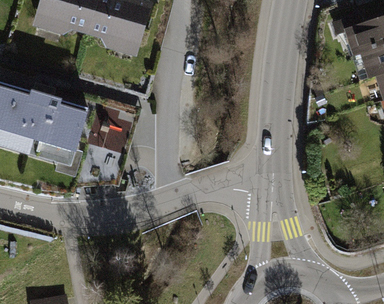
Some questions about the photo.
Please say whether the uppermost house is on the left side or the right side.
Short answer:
left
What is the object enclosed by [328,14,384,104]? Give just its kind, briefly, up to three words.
house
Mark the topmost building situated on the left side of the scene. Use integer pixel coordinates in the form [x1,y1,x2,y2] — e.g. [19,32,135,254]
[33,0,154,56]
